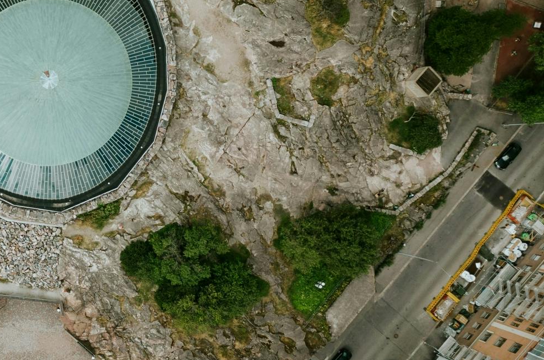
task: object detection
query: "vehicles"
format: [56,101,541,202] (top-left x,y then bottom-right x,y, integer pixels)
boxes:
[496,143,522,170]
[335,349,353,360]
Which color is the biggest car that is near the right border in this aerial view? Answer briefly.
black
